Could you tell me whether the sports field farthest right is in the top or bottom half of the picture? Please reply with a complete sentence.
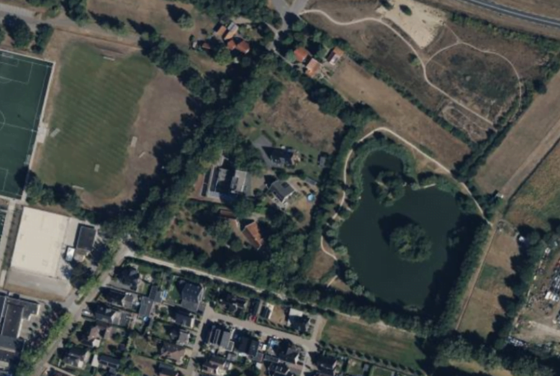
It is in the top half that the sports field farthest right appears.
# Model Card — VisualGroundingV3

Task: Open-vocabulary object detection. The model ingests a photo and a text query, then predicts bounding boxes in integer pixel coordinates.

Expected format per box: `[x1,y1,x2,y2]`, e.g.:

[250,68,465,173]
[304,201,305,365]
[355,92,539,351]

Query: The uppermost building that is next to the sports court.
[76,225,97,251]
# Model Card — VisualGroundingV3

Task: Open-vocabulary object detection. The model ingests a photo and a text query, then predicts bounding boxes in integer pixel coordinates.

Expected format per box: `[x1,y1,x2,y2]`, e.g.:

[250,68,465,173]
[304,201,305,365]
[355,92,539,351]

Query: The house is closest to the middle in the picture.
[271,180,295,203]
